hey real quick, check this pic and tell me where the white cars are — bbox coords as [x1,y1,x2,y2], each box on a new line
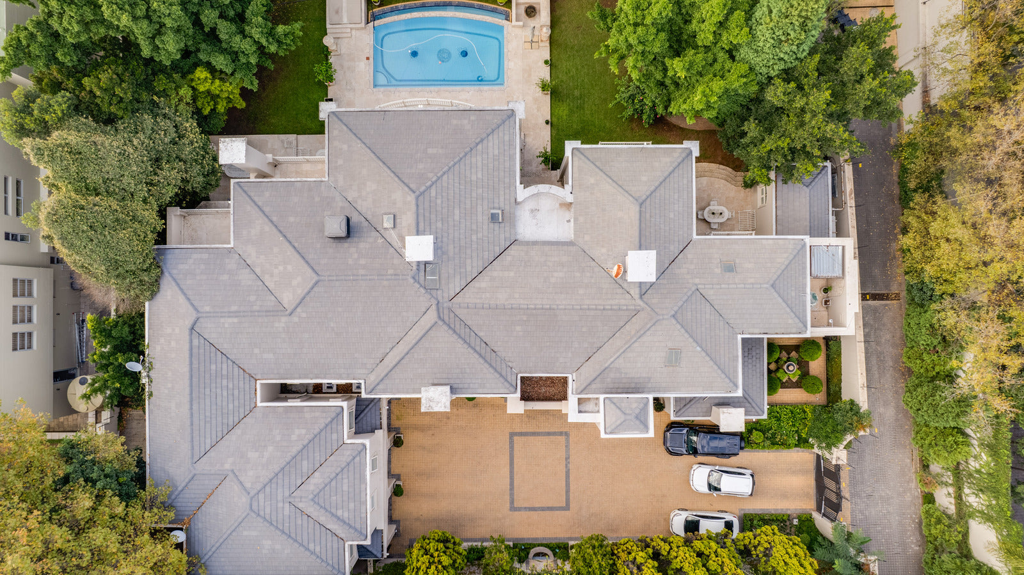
[689,464,755,498]
[670,507,738,537]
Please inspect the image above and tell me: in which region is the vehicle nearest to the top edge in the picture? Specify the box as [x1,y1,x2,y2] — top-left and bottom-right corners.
[668,425,745,460]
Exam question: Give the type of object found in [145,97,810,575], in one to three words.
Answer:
house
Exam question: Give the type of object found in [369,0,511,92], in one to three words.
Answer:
swimming pool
